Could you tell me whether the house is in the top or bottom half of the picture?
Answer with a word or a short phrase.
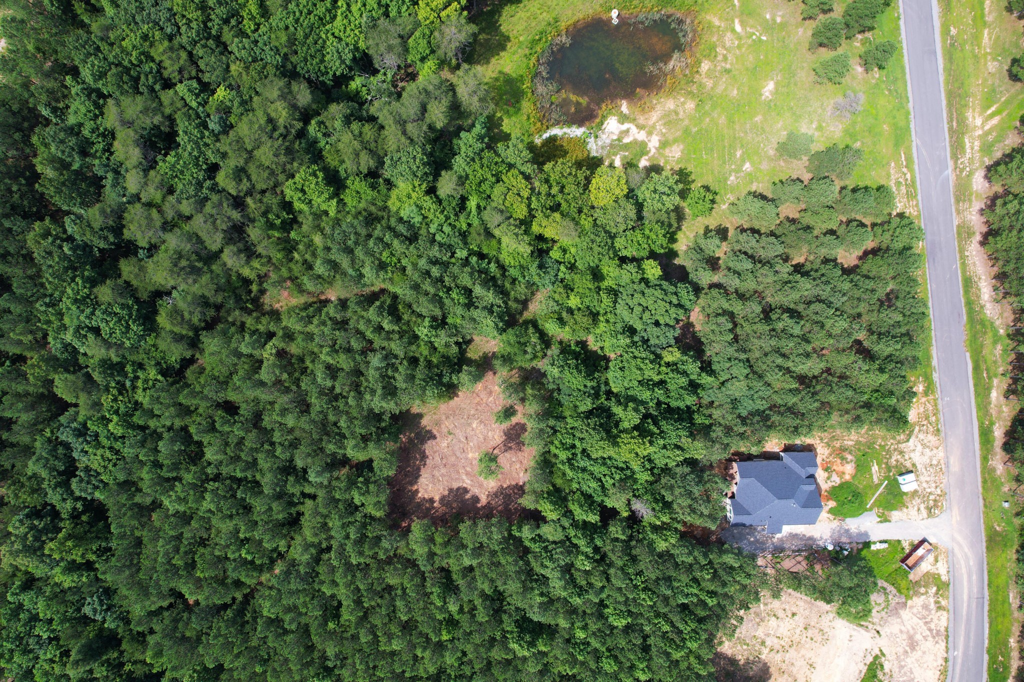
bottom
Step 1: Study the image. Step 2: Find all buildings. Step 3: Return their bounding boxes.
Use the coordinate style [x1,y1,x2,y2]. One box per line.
[723,451,823,534]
